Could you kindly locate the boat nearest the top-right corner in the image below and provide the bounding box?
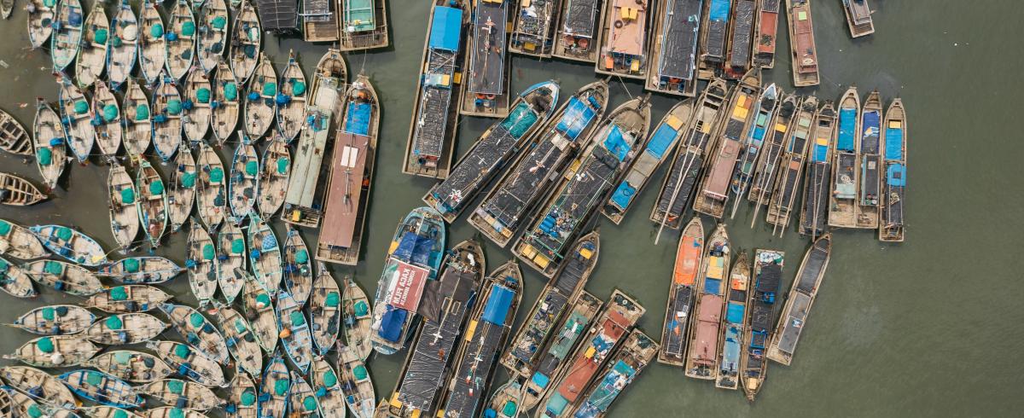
[843,0,876,38]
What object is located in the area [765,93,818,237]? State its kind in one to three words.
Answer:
boat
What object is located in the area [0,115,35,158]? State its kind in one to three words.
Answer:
boat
